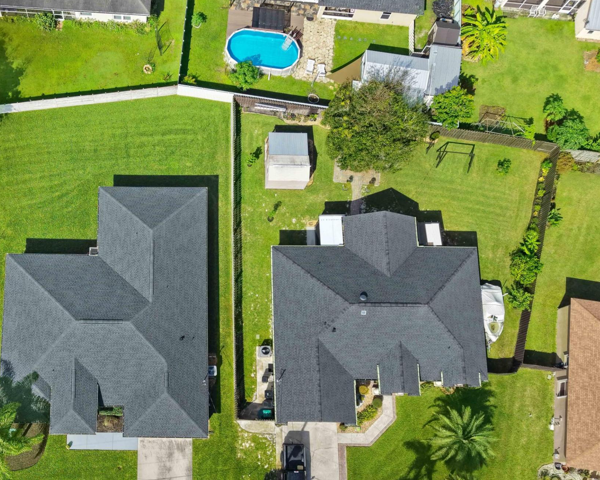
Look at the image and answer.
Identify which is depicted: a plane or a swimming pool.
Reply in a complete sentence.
The image shows a swimming pool.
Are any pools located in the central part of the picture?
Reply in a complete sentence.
No, no pool appears in the central part of the picture.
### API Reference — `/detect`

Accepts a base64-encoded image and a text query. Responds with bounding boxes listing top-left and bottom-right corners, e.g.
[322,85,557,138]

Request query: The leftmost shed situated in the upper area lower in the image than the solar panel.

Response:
[266,132,310,189]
